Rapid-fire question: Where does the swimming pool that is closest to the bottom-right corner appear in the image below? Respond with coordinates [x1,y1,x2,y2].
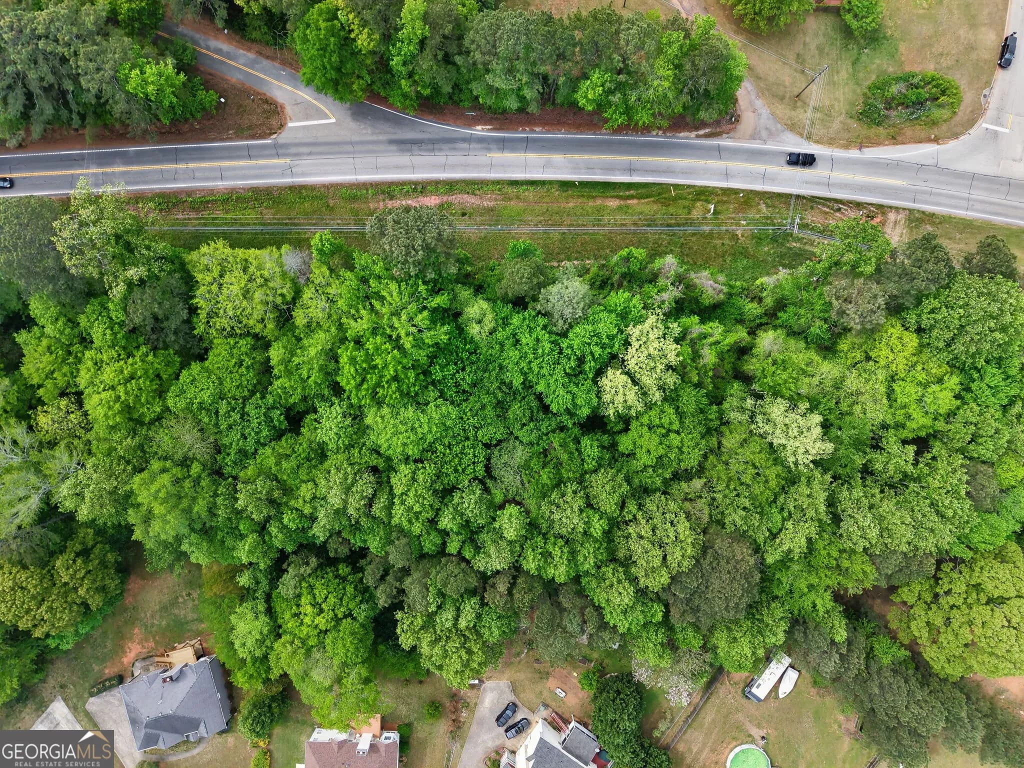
[727,744,771,768]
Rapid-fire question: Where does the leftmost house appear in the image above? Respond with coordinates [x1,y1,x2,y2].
[119,656,231,751]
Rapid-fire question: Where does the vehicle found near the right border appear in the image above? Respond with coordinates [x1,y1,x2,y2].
[996,32,1019,66]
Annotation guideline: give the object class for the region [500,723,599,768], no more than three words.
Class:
house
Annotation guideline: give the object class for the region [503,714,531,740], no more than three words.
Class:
car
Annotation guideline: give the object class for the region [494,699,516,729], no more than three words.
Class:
car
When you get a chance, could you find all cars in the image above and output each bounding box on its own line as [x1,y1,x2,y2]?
[996,32,1019,66]
[503,714,531,740]
[0,174,13,188]
[786,150,817,167]
[494,699,516,729]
